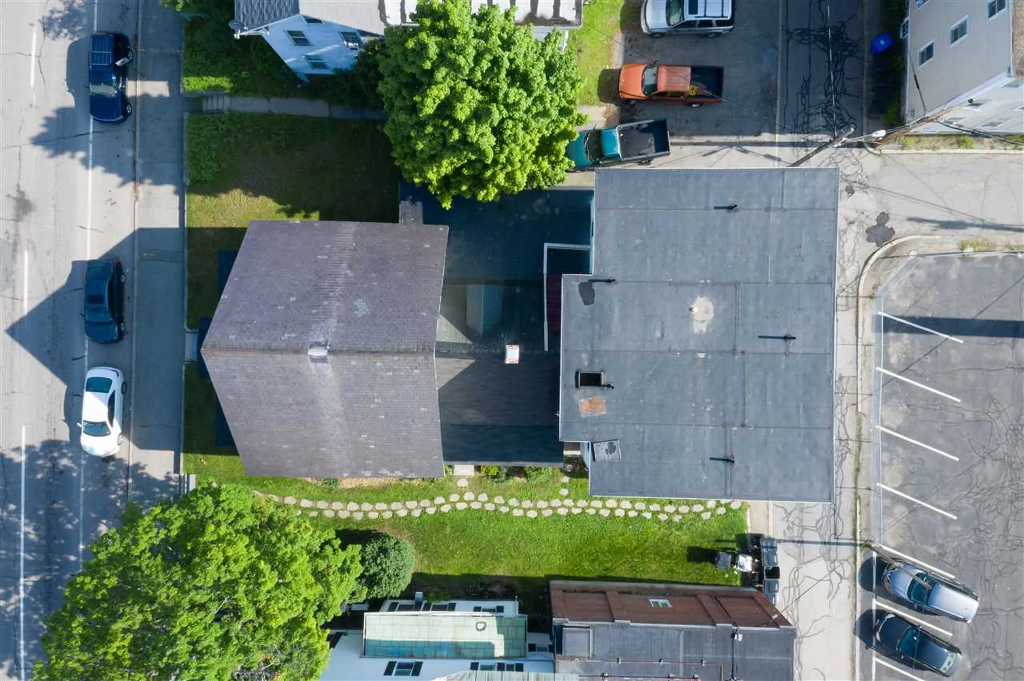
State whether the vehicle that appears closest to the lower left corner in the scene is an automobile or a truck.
automobile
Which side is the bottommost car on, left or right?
right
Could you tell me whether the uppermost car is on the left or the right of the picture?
right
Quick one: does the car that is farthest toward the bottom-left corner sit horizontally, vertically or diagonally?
vertically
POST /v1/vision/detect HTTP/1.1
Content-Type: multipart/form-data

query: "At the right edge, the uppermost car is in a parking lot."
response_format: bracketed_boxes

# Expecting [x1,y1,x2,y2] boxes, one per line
[883,565,977,623]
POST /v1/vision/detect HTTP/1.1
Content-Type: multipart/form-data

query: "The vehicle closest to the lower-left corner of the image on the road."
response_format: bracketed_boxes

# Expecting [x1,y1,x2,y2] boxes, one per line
[76,366,124,456]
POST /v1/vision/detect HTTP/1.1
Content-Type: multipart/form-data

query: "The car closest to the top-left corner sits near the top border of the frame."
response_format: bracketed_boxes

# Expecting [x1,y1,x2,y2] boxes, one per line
[84,34,133,127]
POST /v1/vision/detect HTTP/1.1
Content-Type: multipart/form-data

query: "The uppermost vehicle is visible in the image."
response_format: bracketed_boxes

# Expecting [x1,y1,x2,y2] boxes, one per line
[642,0,732,36]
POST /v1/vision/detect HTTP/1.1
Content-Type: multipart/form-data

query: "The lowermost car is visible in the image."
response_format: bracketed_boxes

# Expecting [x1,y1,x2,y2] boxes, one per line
[872,615,963,677]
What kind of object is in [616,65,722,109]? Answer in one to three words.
truck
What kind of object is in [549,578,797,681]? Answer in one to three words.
building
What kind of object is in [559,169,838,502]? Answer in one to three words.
building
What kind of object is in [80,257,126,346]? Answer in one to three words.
car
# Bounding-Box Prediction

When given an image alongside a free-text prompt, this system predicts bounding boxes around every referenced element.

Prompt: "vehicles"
[883,565,977,623]
[566,122,670,171]
[76,366,124,456]
[84,34,133,127]
[872,615,963,677]
[642,0,732,36]
[616,65,722,109]
[80,257,126,346]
